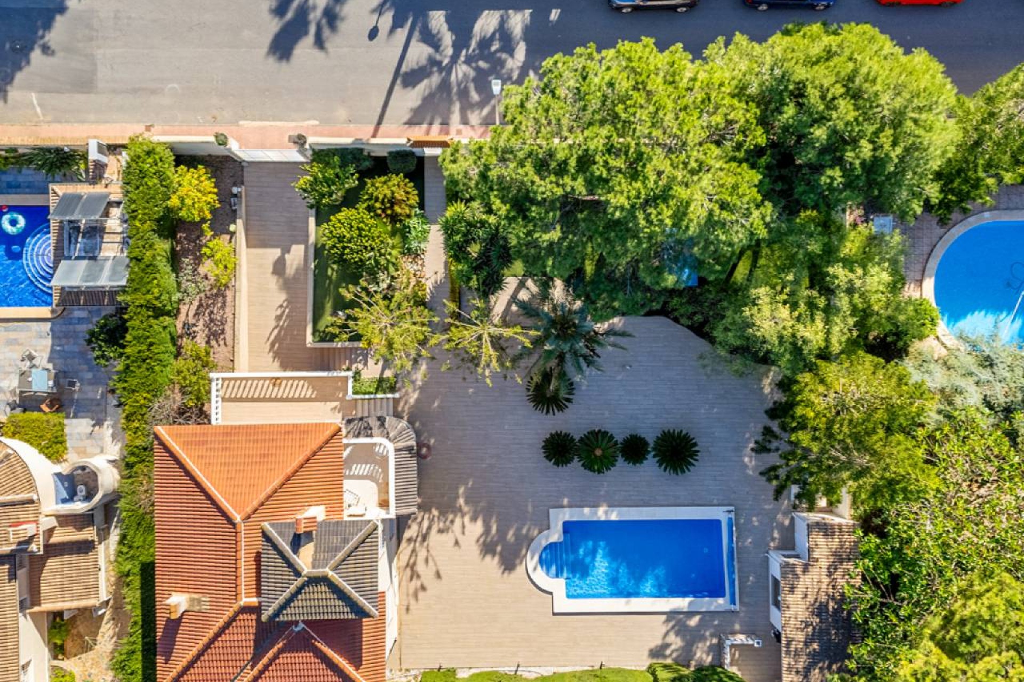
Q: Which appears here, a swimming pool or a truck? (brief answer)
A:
swimming pool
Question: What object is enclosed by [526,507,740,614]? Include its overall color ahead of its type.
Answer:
blue swimming pool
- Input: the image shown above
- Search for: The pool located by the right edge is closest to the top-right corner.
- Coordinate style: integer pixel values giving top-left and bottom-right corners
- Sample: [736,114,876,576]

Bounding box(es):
[922,209,1024,356]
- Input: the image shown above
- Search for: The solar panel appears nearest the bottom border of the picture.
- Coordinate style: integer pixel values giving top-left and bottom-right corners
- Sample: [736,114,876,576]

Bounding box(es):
[49,259,136,286]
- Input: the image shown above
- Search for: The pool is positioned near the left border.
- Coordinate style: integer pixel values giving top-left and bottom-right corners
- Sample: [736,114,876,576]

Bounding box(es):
[0,195,64,319]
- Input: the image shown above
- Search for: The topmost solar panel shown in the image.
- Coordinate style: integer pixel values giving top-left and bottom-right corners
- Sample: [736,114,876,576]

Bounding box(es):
[46,192,119,222]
